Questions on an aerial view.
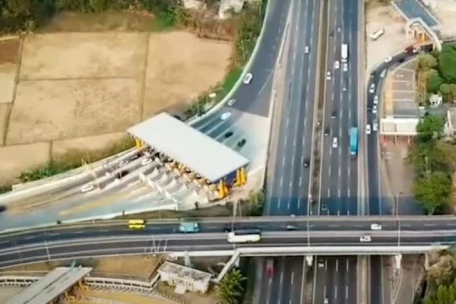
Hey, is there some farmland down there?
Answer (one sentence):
Yes, farmland shows up in the scene.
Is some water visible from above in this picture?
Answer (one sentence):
No, water can't be seen anywhere here.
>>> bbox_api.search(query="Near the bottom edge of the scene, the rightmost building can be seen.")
[159,263,211,294]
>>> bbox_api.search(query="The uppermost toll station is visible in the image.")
[392,0,439,39]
